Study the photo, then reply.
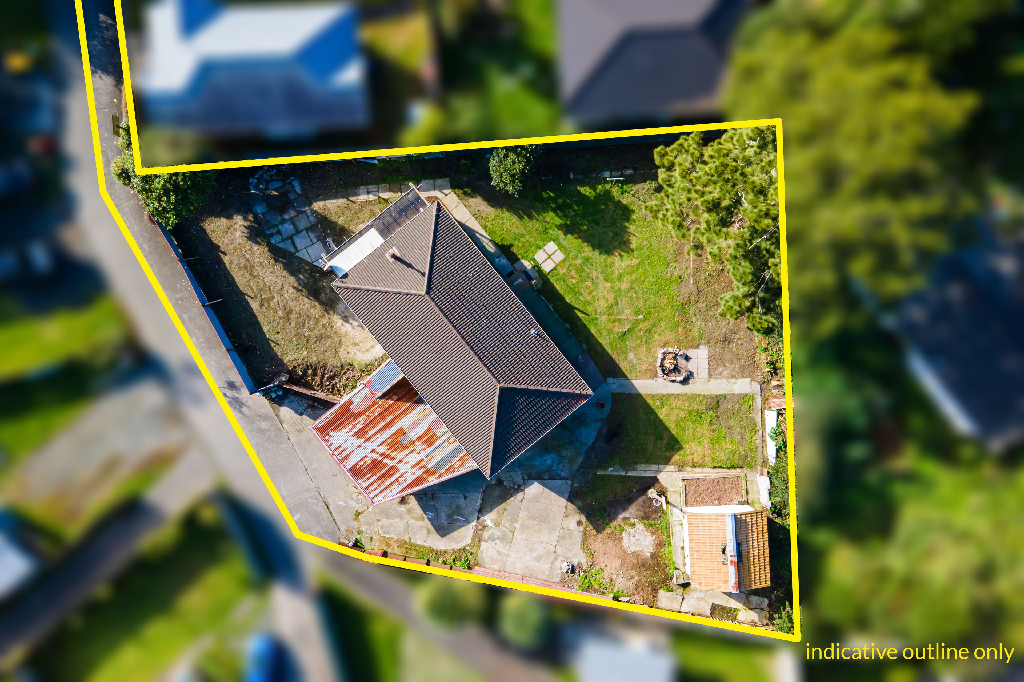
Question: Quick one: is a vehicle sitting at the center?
No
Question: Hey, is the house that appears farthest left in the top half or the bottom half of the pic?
bottom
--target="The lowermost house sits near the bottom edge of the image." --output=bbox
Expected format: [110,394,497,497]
[570,623,671,682]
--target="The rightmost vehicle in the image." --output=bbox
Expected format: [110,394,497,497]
[242,631,283,682]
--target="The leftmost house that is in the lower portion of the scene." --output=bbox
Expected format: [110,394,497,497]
[0,518,54,608]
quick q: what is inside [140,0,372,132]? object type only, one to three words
house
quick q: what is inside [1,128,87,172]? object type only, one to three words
car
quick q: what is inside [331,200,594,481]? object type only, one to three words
house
